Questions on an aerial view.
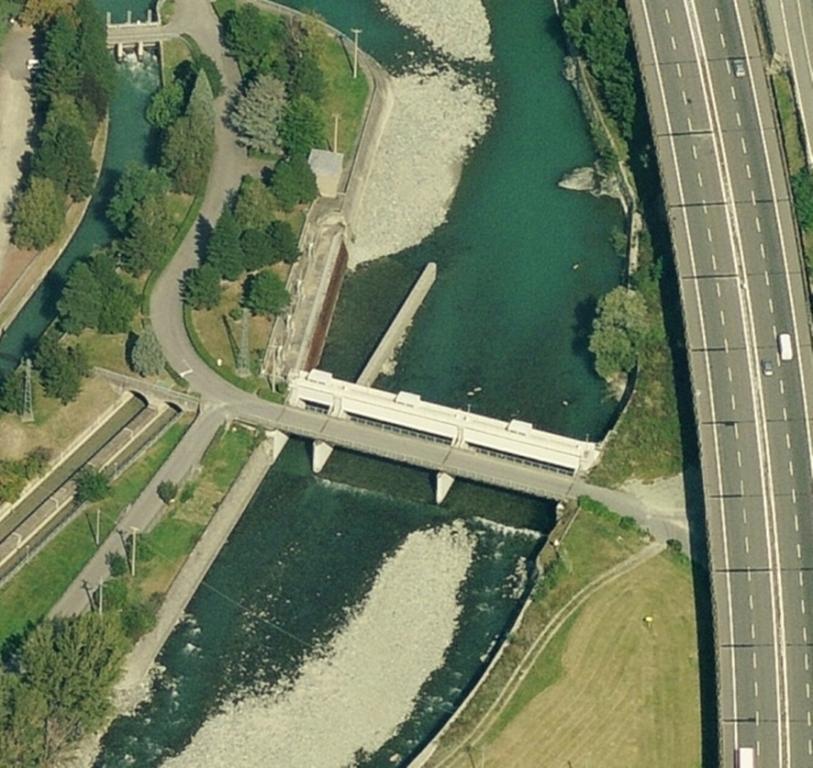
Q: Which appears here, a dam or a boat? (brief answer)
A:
dam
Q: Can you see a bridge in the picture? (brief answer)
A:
Yes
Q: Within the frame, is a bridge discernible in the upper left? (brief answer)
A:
Yes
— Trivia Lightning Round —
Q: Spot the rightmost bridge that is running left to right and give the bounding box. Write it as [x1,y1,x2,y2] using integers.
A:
[260,405,577,504]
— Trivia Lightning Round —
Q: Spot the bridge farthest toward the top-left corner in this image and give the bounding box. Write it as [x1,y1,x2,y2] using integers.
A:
[103,12,182,73]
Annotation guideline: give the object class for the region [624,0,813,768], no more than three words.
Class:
bridge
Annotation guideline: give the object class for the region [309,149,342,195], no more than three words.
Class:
shed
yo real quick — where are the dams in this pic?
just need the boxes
[275,362,599,485]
